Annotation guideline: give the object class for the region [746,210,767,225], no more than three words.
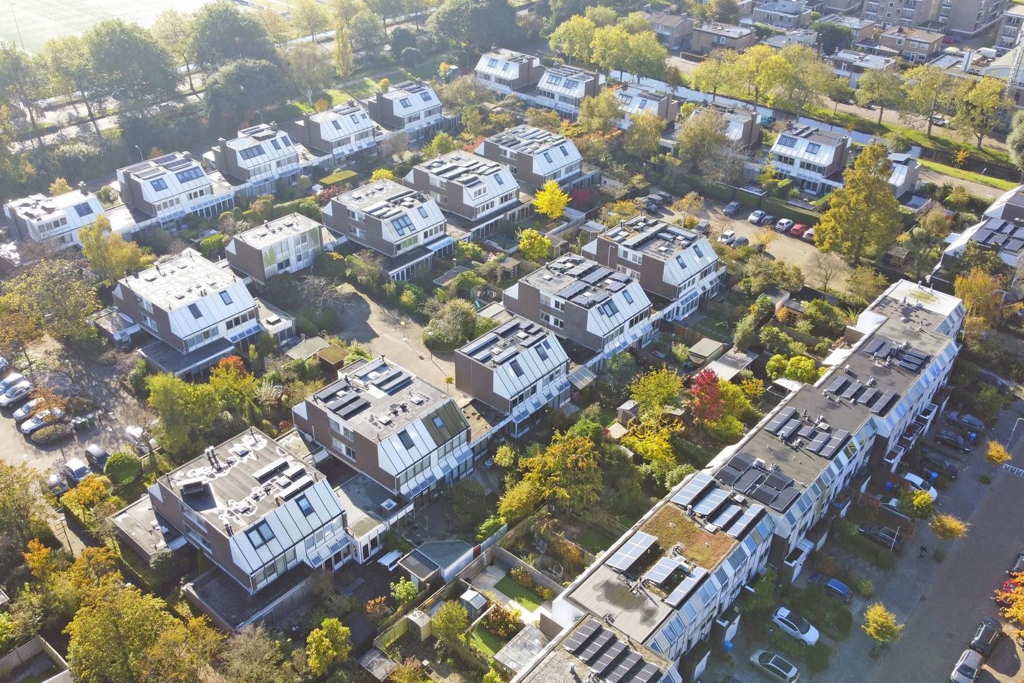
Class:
car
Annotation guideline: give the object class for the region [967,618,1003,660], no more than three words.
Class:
car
